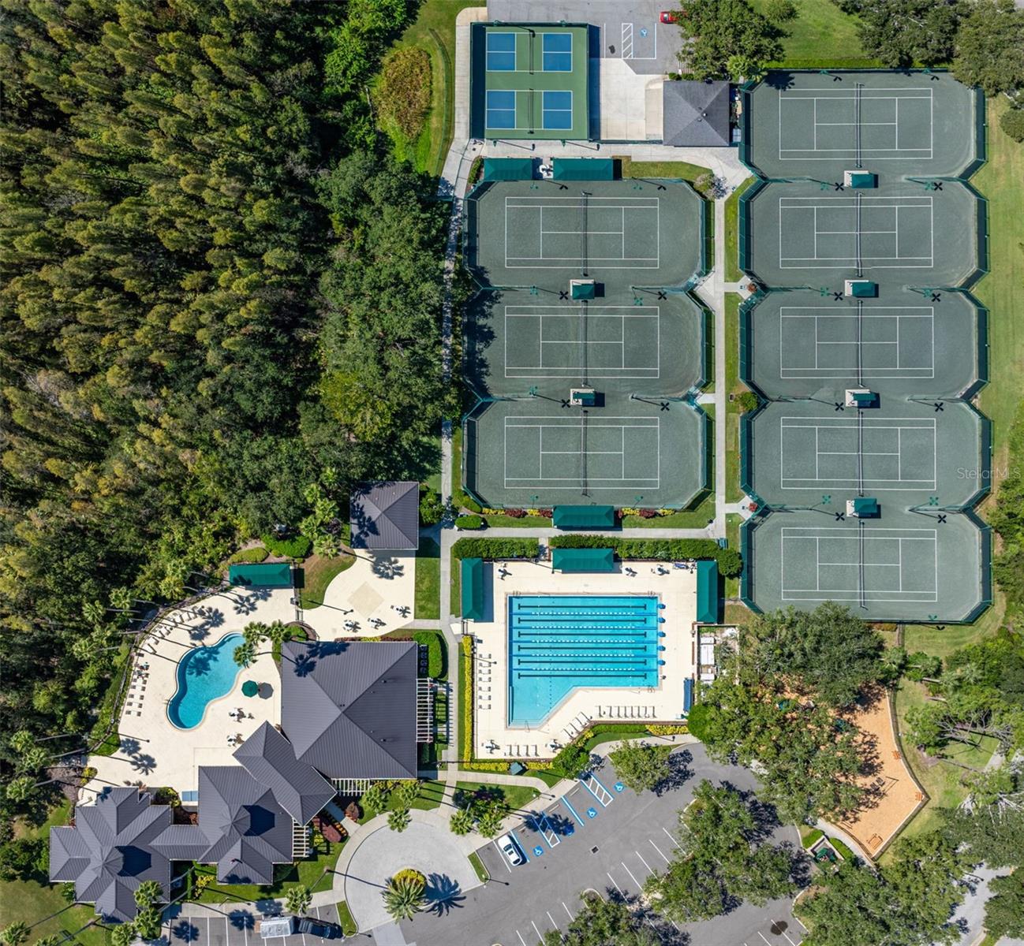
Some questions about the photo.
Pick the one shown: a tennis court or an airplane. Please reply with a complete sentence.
This aerial view contains a tennis court.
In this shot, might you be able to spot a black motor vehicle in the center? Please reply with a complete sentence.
No, in the center there is no black motor vehicle.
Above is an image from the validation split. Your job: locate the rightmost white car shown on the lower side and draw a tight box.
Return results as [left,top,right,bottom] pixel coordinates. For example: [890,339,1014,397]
[501,836,522,869]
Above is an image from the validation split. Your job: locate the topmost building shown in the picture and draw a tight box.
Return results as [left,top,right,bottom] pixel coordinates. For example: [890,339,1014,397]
[664,80,729,151]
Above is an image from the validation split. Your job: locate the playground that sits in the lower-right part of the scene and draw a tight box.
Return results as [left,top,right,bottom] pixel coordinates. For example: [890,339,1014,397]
[806,817,873,876]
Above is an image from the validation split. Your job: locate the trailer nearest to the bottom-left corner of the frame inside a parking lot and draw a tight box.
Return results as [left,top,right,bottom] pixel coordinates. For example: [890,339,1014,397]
[256,919,298,944]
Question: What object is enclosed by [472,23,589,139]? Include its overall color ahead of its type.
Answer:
green sports court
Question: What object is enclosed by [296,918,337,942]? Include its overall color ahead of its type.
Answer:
black truck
